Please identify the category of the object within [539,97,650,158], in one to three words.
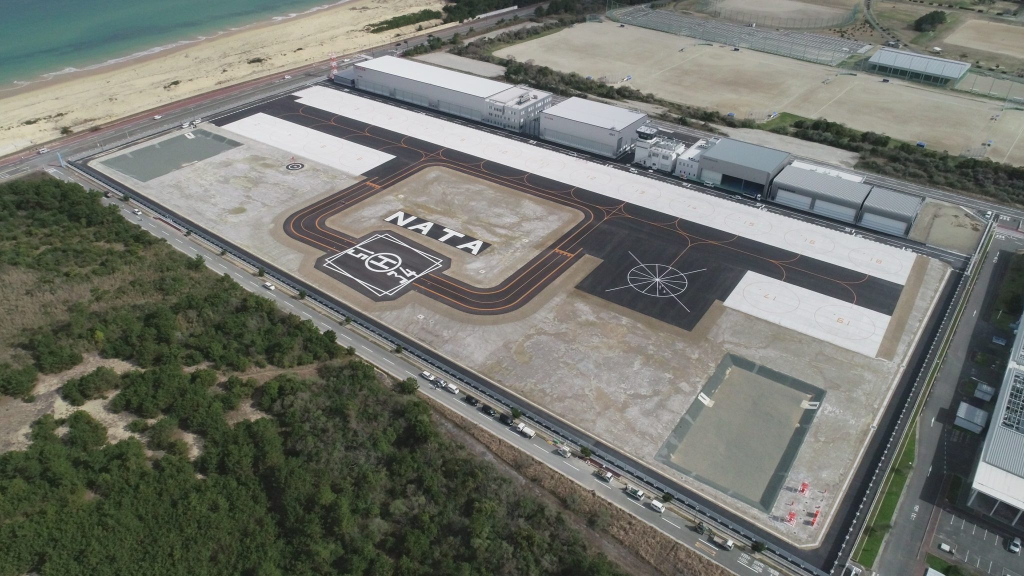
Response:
hangar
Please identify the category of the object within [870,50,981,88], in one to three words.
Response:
building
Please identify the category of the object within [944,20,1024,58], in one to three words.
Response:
sports field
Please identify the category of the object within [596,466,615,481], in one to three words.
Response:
vehicle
